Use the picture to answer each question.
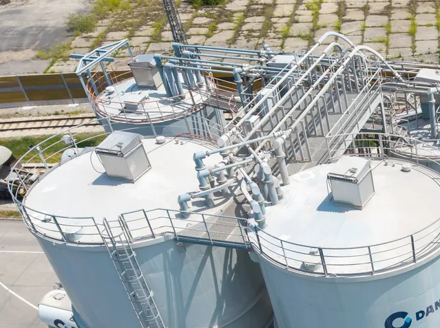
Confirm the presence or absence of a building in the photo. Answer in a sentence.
No, I find no building anywhere in the image.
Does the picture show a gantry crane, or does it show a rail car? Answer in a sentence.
It is a rail car that can be seen here.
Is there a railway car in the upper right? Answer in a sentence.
No, in the upper right there is no railway car.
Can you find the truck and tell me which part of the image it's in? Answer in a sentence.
You can find the truck in the bottom left area of the picture.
